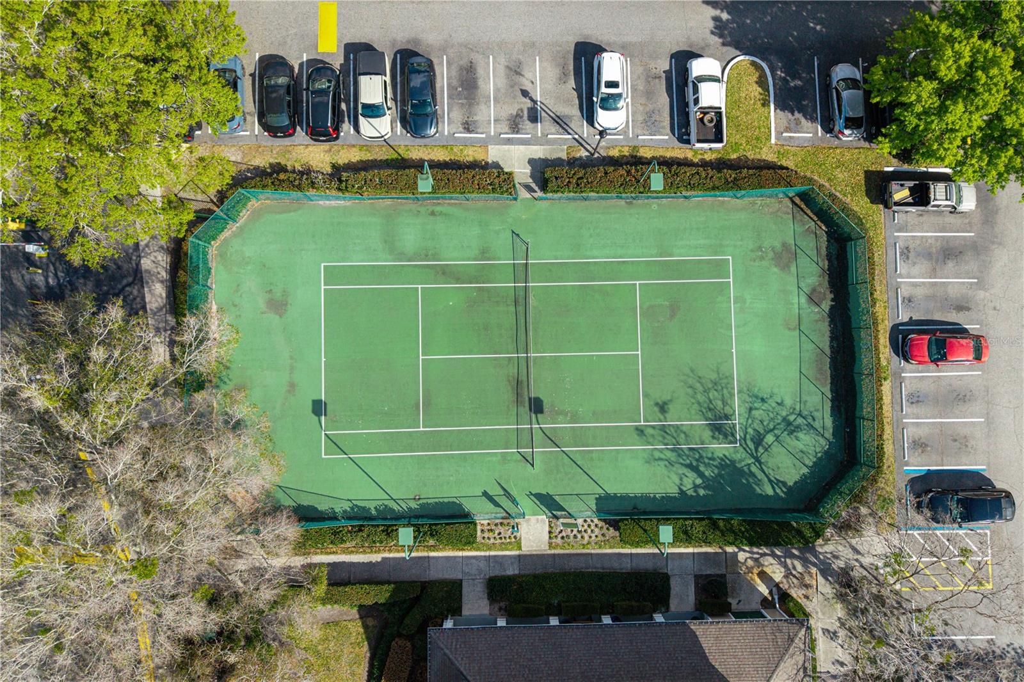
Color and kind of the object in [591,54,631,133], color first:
white car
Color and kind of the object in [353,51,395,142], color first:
white truck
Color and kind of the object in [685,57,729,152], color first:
white truck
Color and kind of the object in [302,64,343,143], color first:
black car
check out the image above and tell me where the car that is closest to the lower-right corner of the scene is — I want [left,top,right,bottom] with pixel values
[914,484,1007,528]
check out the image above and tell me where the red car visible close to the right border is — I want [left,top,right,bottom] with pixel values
[901,330,988,369]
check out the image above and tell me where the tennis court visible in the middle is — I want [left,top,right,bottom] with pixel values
[215,198,842,516]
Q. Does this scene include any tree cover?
Yes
